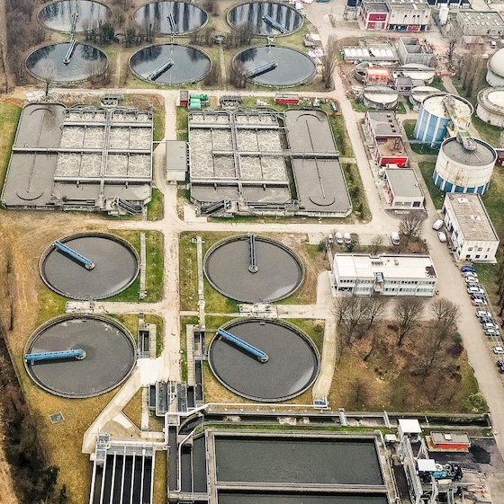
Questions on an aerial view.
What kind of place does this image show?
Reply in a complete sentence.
The picture captures an industrial area.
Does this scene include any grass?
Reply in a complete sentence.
Yes, the picture does contain grass.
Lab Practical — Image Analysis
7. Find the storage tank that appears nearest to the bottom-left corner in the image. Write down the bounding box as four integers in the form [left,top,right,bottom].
[21,313,137,404]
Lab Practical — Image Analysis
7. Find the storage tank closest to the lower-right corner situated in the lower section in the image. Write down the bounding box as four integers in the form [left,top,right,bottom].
[207,317,321,408]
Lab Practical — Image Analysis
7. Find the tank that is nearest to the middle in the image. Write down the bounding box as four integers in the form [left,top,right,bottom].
[203,228,305,307]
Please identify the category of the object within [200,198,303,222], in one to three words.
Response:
building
